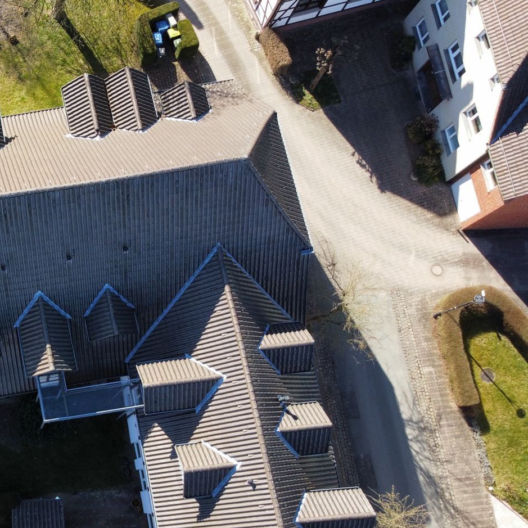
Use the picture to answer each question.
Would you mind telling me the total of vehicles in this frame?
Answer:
none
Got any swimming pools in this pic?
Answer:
No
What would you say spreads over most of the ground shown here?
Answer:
buildings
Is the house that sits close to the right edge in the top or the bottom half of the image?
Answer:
top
